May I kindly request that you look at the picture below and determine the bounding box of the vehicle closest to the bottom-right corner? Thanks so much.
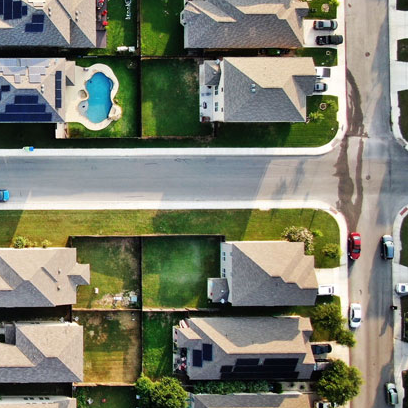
[384,381,397,406]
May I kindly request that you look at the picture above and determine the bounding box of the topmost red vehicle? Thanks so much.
[347,234,359,258]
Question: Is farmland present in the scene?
No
